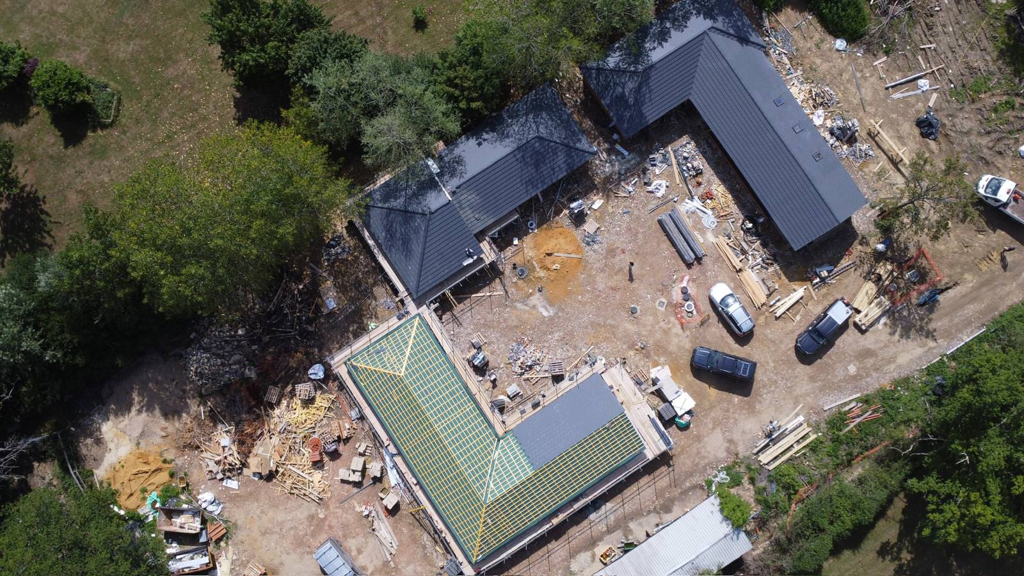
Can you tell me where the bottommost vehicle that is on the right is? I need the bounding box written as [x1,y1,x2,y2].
[688,348,759,384]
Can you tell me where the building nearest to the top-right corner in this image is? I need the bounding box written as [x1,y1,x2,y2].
[579,0,868,250]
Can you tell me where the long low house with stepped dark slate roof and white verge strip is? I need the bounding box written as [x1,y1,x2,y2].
[364,84,596,300]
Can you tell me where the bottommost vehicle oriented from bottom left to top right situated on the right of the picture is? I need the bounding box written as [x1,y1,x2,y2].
[794,295,858,353]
